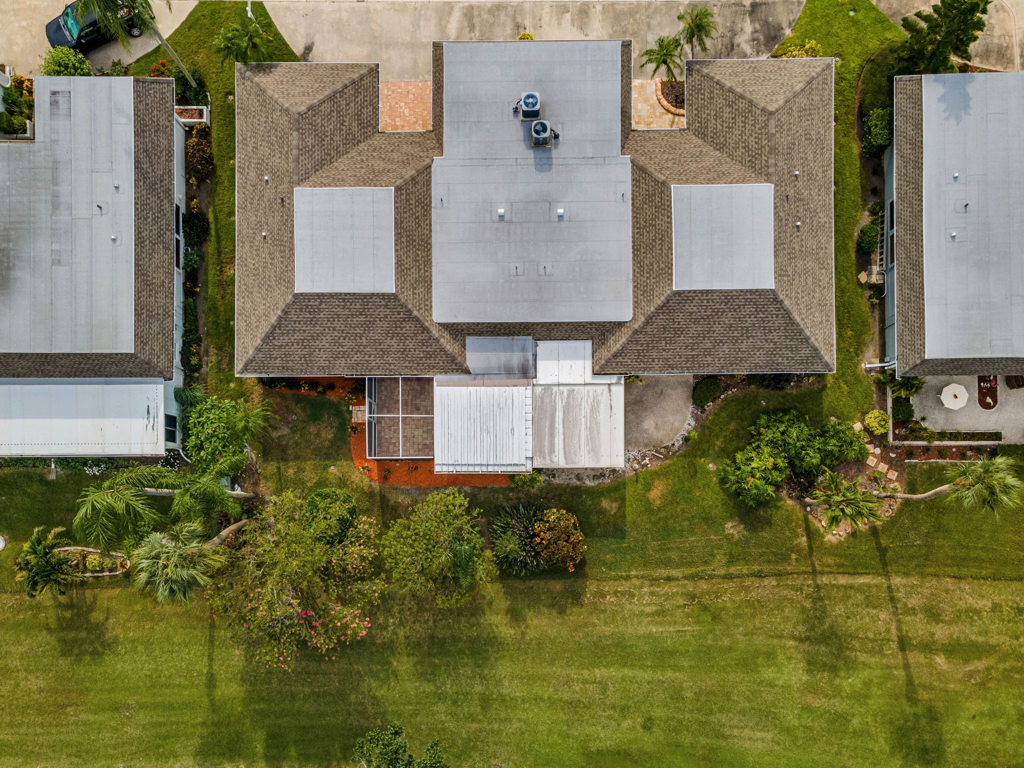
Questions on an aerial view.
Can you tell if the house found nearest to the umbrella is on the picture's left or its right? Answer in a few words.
right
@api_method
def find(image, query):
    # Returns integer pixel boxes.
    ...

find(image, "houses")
[0,66,195,463]
[866,73,1024,380]
[234,39,836,475]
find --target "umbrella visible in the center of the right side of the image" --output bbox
[928,383,967,411]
